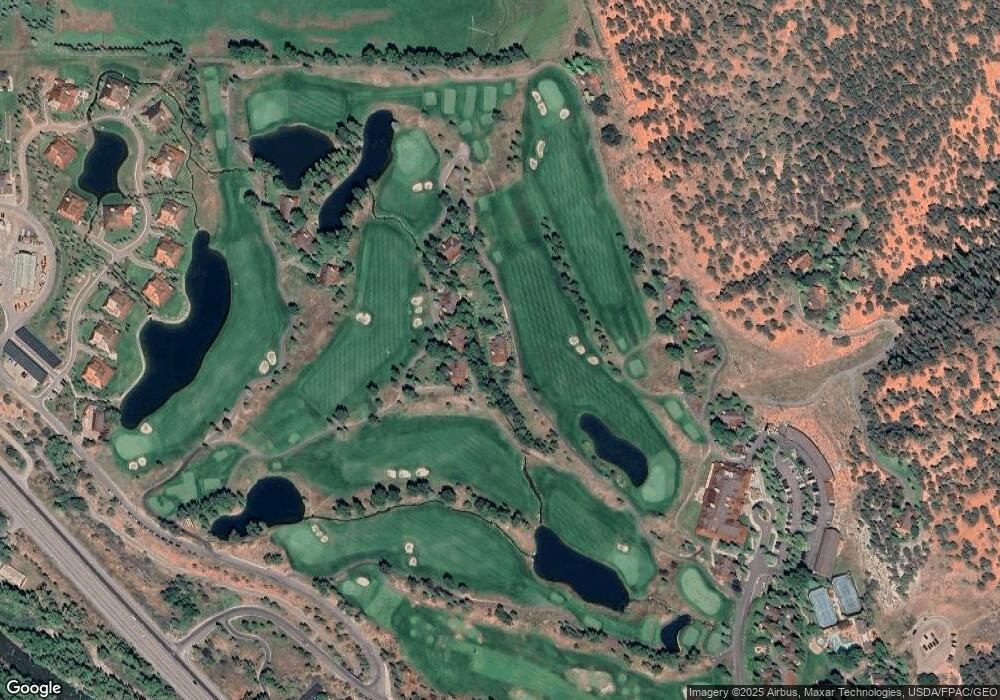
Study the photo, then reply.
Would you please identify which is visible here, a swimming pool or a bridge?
swimming pool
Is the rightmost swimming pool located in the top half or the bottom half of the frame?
bottom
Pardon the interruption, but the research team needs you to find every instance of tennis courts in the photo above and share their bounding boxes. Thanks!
[832,574,862,616]
[810,587,839,629]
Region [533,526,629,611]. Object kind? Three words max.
pond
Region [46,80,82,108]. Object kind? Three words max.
house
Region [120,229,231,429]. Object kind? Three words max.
pond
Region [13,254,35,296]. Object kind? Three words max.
building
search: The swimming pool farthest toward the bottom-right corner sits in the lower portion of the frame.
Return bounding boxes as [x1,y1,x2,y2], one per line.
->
[809,620,863,655]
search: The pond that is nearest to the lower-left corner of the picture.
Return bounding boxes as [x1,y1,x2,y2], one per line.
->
[210,474,306,540]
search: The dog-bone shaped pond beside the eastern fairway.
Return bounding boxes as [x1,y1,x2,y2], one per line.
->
[580,413,648,487]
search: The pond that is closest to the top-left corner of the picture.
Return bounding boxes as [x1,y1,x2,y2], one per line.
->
[79,128,128,194]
